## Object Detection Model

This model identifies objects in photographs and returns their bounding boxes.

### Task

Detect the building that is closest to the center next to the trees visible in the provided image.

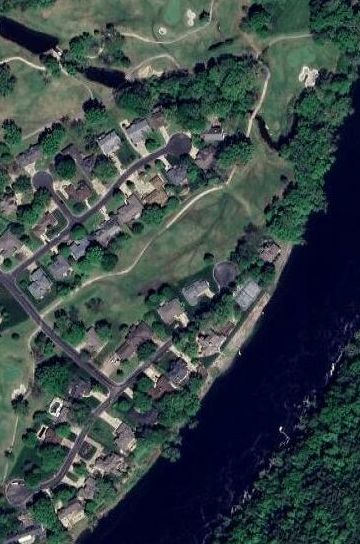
[180,275,211,305]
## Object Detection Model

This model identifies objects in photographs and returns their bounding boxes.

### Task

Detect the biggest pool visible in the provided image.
[50,398,62,417]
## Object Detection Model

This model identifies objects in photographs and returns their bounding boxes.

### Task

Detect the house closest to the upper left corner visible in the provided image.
[16,143,44,166]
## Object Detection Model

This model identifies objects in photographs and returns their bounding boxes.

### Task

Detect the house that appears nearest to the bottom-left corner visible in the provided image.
[3,515,46,544]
